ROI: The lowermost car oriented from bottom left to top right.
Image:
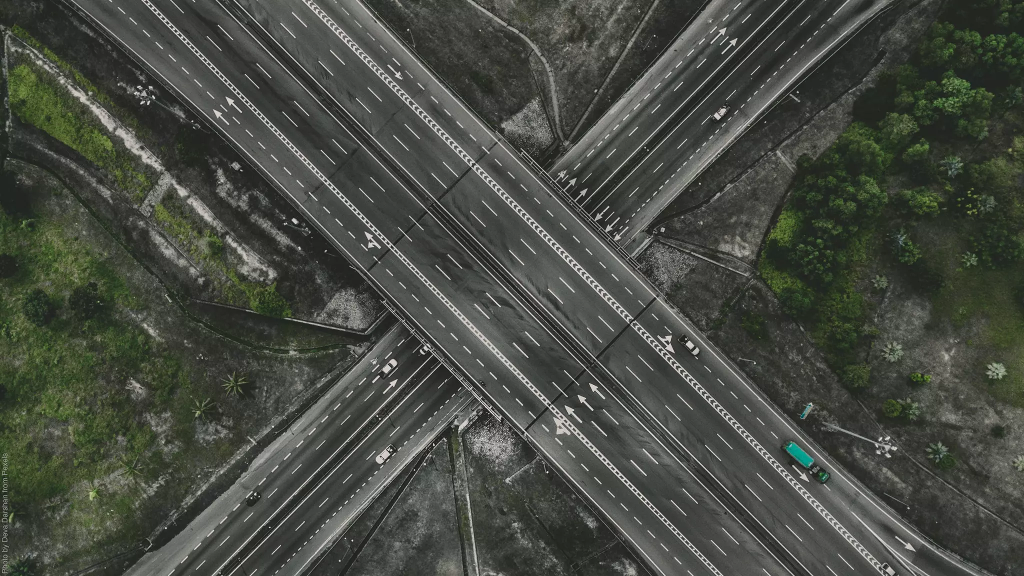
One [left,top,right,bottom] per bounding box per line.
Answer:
[245,491,262,507]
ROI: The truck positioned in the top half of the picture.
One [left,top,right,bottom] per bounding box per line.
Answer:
[710,102,733,125]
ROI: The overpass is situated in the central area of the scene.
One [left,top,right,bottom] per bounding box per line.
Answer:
[357,131,667,442]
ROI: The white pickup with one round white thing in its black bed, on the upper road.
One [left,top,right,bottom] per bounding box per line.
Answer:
[677,332,701,356]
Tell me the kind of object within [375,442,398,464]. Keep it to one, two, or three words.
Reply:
truck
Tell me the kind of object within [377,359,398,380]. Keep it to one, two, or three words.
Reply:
truck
